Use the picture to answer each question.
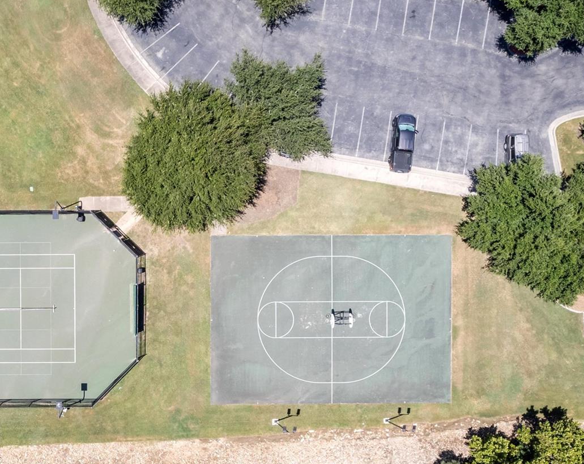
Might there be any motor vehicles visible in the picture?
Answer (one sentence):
Yes, there is a motor vehicle in the image.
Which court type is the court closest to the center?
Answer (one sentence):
It looks like the court closest to the center is a basketball court.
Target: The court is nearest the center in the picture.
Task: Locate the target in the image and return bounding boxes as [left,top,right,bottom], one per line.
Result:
[211,234,452,405]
